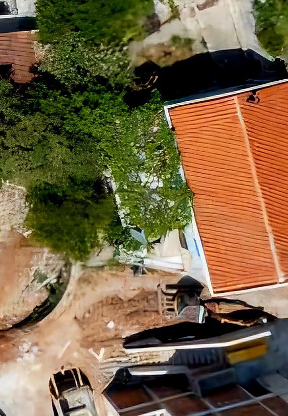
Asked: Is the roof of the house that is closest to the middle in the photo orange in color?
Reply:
Yes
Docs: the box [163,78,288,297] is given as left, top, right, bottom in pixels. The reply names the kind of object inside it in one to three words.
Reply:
house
